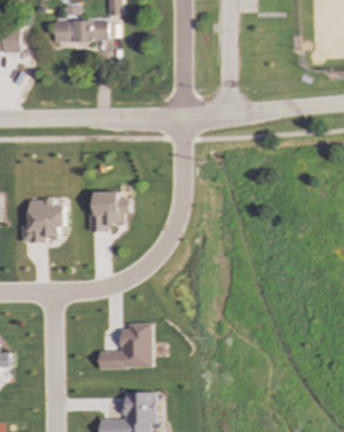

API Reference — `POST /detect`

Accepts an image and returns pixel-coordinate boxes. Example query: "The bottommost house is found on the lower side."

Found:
[96,392,159,432]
